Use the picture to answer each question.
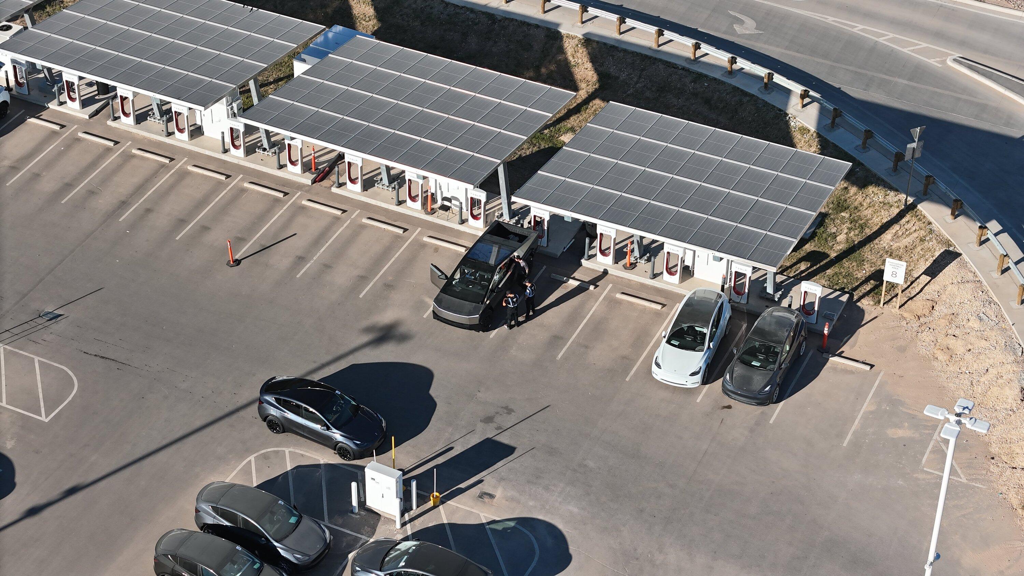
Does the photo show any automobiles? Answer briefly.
Yes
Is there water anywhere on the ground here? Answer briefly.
No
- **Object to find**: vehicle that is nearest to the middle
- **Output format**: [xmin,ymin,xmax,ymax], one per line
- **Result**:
[422,221,539,332]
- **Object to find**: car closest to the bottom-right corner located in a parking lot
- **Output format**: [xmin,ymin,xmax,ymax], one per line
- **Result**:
[723,312,809,410]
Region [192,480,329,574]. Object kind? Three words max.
car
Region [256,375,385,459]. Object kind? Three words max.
car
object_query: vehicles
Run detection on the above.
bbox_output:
[723,312,809,410]
[653,293,732,390]
[0,84,11,119]
[422,221,539,332]
[349,533,494,576]
[256,375,385,459]
[192,480,329,574]
[151,528,285,576]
